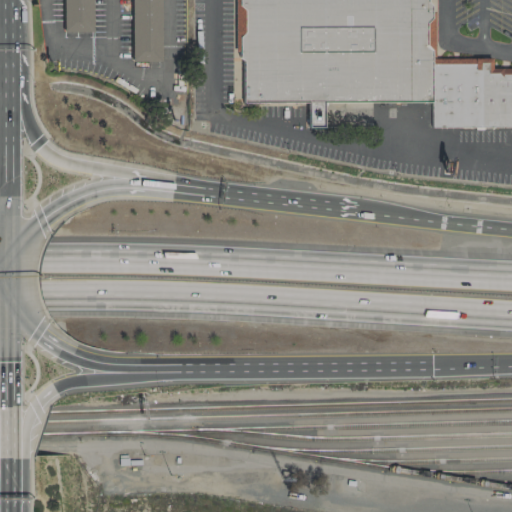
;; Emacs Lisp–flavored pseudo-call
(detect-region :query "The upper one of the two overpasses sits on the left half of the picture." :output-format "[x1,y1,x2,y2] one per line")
[0,195,110,361]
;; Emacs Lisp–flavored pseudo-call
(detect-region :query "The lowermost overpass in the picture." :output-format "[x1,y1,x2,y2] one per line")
[0,394,62,458]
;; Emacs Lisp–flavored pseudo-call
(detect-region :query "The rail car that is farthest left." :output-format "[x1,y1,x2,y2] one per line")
[389,466,433,478]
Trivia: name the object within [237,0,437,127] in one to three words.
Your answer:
building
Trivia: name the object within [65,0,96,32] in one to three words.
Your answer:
building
